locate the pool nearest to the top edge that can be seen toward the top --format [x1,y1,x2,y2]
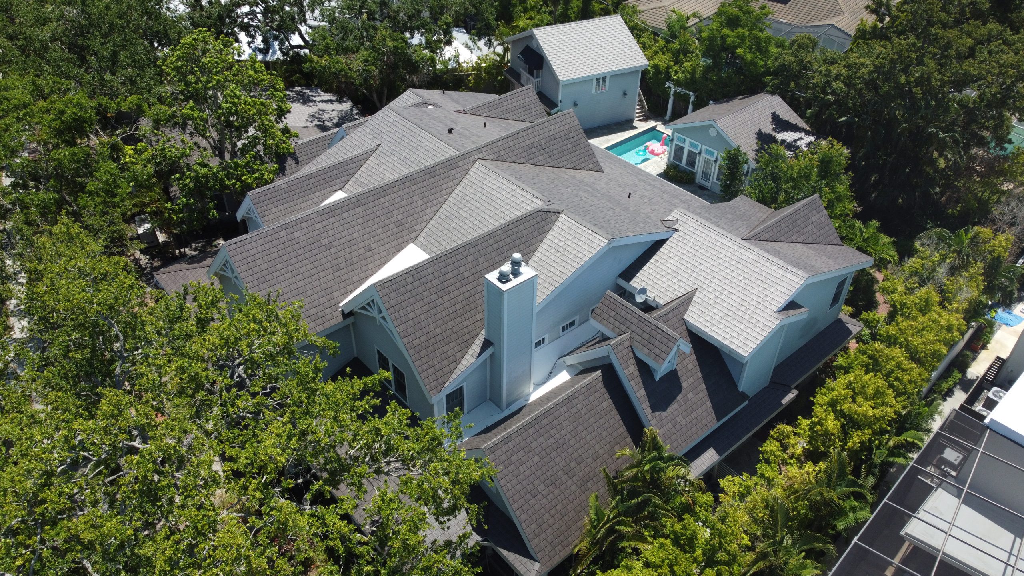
[602,121,672,166]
